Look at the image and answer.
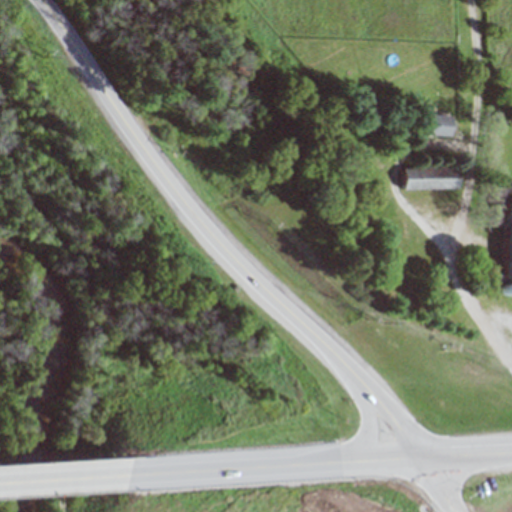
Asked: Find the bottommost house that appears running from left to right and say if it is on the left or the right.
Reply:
right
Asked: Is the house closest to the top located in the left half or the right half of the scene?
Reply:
right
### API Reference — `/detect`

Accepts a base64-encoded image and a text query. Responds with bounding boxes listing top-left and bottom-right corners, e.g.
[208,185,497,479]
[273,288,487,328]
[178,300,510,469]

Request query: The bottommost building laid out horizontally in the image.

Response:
[406,166,464,190]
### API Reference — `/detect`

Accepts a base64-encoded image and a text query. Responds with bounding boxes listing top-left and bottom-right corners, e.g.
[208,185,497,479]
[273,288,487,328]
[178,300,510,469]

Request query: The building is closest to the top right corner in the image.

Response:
[434,112,458,138]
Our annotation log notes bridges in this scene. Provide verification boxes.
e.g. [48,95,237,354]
[0,458,134,498]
